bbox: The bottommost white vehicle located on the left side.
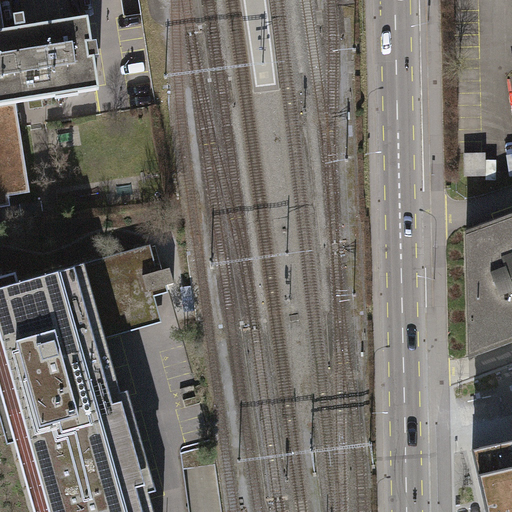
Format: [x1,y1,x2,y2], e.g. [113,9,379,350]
[120,63,146,75]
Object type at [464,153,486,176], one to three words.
shed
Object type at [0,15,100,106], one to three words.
building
